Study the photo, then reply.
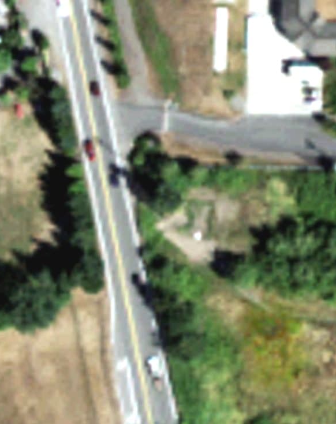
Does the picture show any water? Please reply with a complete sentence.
No, the scene doesn't show any water.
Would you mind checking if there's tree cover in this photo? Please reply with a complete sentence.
Yes, tree cover can be seen from above here.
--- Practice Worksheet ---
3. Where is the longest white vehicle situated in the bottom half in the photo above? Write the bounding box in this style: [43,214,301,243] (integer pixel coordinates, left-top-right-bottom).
[150,353,165,380]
